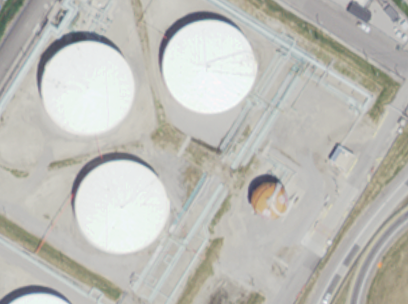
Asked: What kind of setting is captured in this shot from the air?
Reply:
industrial area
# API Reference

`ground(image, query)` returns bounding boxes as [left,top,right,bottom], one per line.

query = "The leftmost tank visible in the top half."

[39,38,138,138]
